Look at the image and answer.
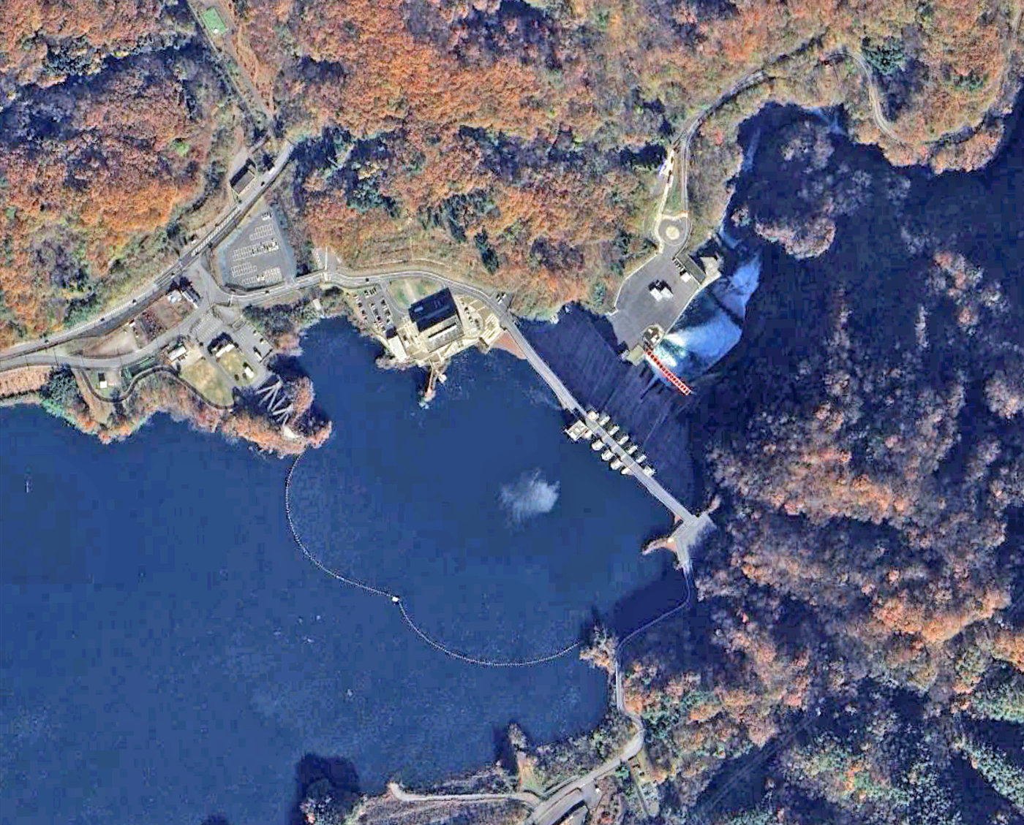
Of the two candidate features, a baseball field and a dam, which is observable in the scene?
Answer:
dam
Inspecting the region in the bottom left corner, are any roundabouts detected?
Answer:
No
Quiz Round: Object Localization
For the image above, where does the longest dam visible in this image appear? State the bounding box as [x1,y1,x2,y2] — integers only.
[496,305,708,522]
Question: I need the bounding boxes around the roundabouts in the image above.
[656,214,689,257]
